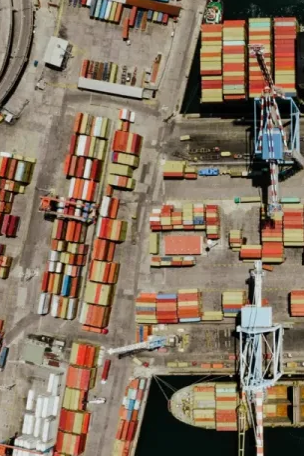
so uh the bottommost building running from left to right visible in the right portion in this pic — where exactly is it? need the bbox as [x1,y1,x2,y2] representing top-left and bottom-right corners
[165,236,206,255]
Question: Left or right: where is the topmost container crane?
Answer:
right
